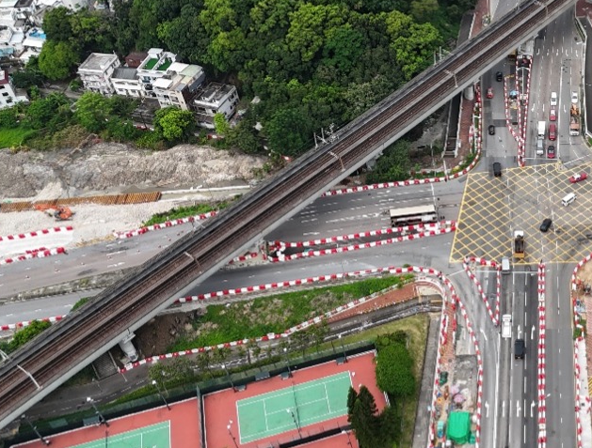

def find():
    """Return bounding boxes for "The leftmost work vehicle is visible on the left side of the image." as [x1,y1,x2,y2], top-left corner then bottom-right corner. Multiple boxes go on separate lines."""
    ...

[43,193,75,218]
